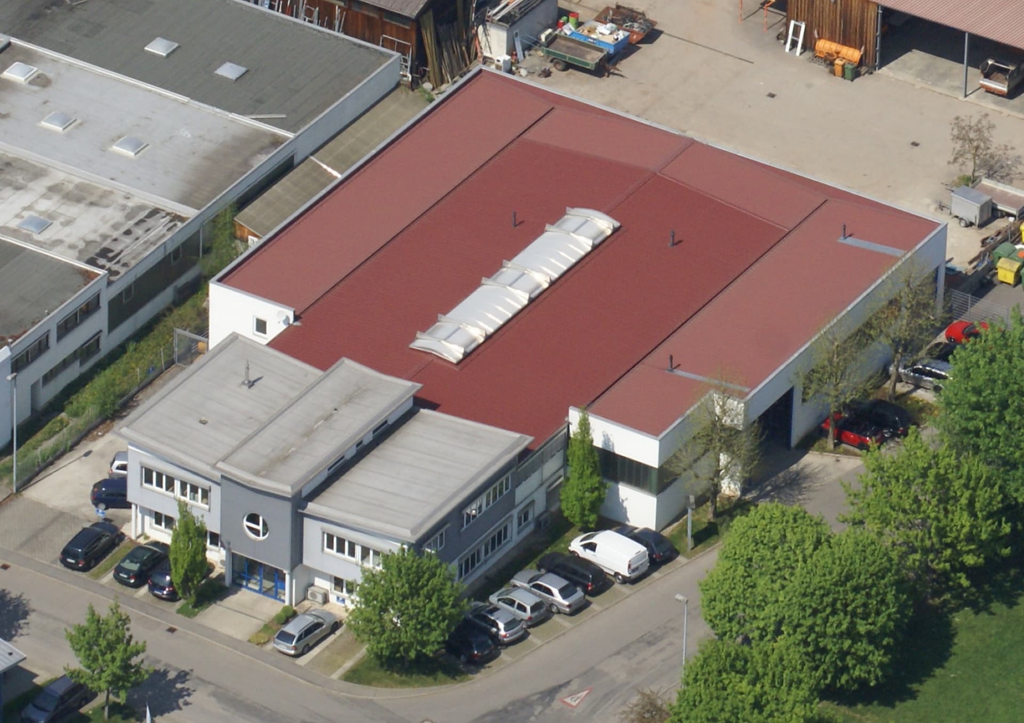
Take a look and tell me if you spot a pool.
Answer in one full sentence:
No, the frame has no pool in it.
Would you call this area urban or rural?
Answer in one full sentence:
From above, the setting appears urban.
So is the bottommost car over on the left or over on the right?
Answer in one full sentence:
It is on the left.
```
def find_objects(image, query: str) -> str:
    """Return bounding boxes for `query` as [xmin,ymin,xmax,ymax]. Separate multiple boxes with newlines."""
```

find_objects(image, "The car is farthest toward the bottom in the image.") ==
[22,678,88,723]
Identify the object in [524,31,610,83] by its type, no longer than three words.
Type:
trailer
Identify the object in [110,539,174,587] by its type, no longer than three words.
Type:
car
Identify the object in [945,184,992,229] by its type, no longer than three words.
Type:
trailer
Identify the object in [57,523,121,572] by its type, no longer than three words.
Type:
car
